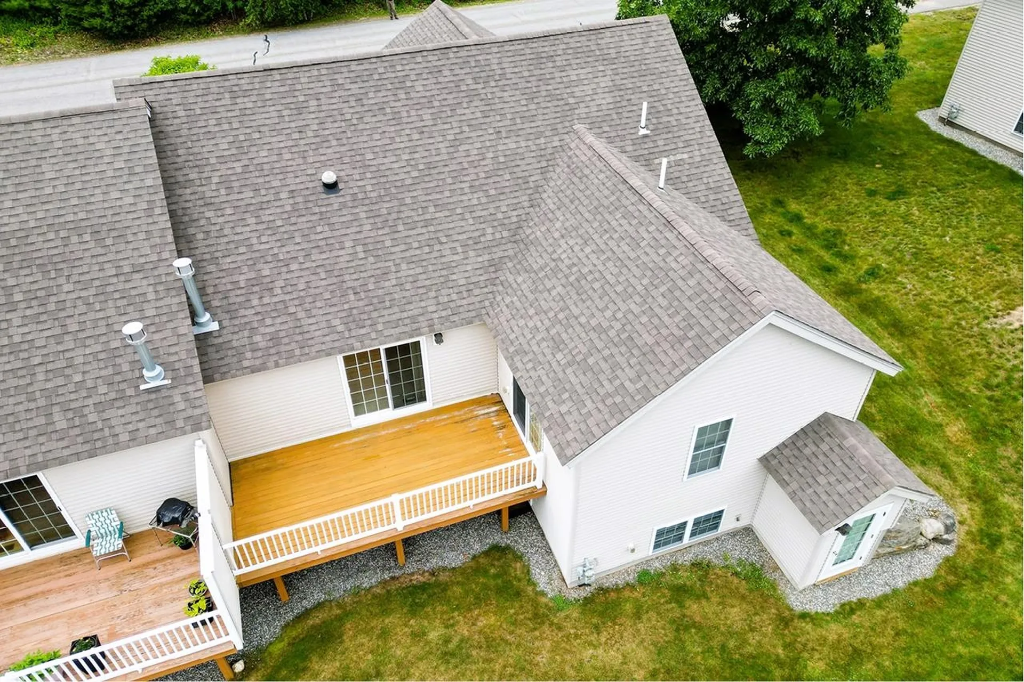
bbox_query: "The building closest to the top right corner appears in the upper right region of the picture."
[942,0,1024,153]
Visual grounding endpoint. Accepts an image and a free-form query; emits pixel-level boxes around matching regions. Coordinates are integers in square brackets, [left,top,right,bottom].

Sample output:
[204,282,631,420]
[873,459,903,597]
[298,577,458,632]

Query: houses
[113,0,938,590]
[942,0,1024,153]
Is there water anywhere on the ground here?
No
